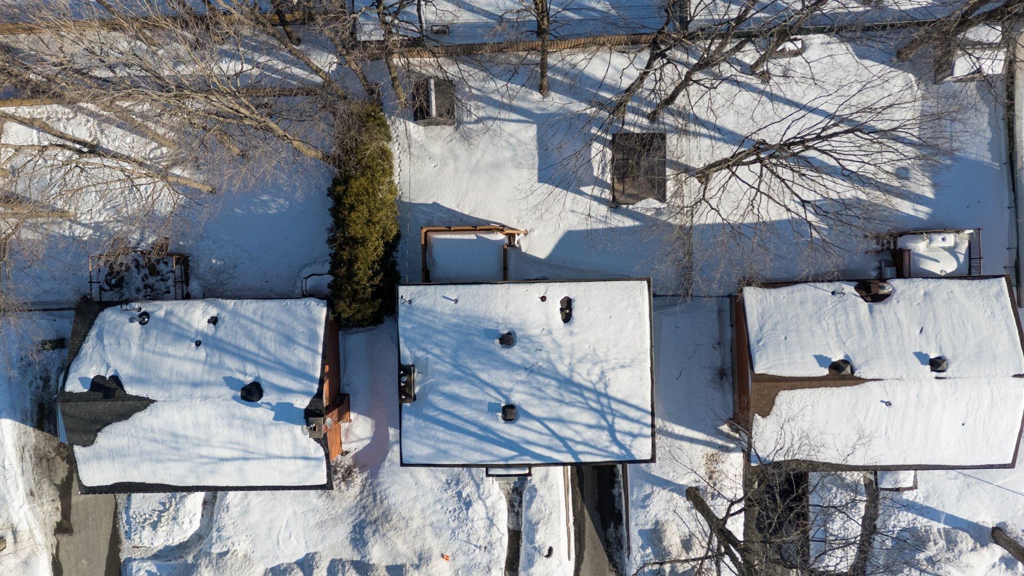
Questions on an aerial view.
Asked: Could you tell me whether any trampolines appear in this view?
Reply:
No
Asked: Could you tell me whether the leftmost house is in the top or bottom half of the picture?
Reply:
bottom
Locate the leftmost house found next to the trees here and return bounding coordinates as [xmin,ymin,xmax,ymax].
[58,298,347,496]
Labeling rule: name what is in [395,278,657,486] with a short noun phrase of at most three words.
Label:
house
